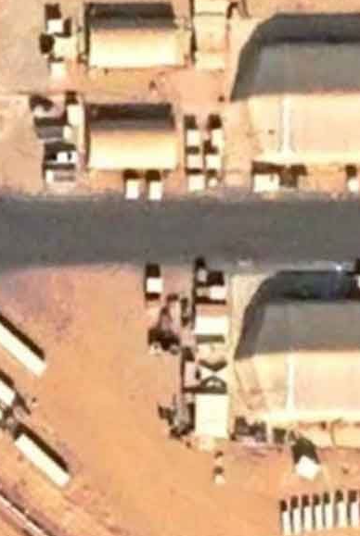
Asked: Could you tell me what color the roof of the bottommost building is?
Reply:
white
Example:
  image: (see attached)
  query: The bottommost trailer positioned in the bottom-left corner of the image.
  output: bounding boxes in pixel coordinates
[14,435,69,487]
